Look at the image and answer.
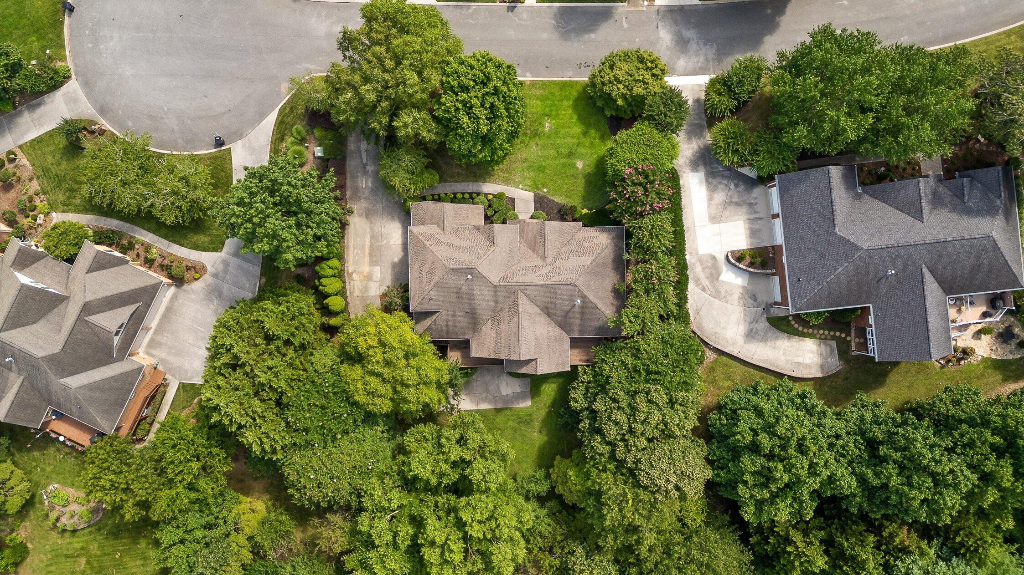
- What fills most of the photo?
trees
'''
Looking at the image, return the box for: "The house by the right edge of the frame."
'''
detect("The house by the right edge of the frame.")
[767,165,1024,362]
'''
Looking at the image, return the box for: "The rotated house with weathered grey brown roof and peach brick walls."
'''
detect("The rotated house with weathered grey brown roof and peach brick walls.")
[0,236,172,451]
